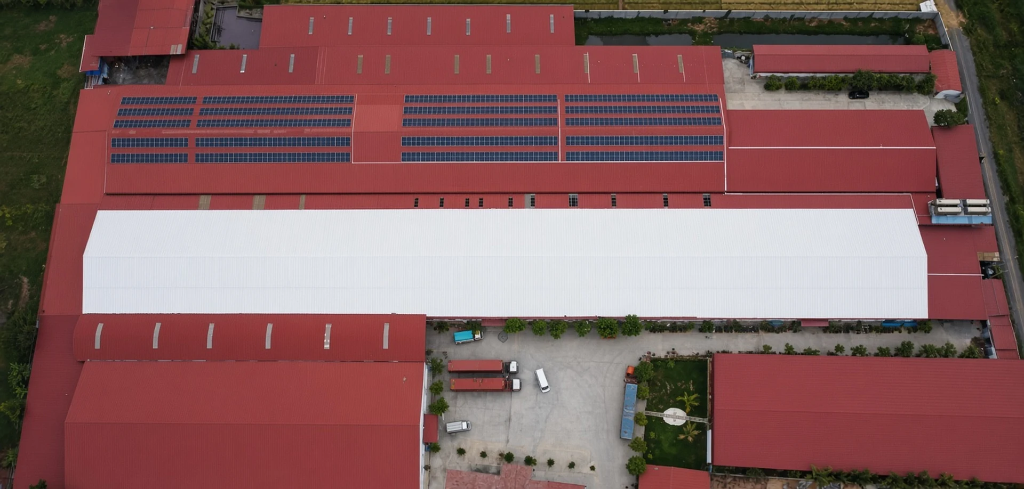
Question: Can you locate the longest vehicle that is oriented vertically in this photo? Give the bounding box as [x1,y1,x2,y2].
[619,365,636,439]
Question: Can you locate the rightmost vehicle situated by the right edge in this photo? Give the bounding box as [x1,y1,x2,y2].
[986,261,1003,274]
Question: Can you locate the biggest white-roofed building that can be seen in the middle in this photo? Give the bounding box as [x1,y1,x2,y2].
[82,208,929,320]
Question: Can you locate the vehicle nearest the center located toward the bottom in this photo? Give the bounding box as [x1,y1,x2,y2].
[453,331,485,343]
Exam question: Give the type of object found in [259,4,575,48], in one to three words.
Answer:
building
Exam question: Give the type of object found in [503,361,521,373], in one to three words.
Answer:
vehicle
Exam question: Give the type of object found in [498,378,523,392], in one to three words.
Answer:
vehicle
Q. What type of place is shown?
industrial area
